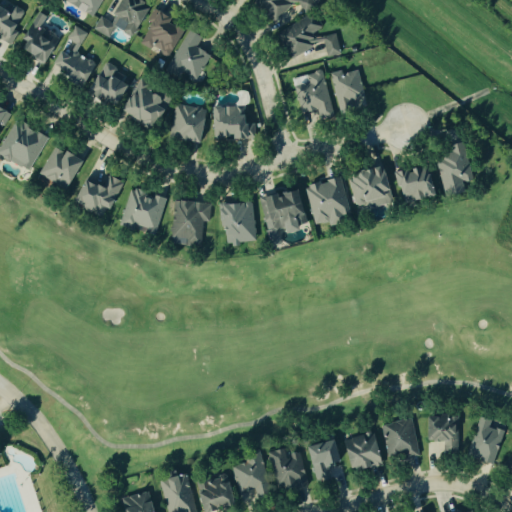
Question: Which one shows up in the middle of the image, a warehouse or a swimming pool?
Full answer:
There is a swimming pool in the middle of the image.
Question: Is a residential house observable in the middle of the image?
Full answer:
Yes, a residential house can be seen in the middle of the image.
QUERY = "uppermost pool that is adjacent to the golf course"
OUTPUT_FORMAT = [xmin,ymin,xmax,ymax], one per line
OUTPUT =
[0,160,34,180]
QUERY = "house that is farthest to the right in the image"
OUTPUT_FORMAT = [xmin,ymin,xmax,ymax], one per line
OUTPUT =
[474,416,507,466]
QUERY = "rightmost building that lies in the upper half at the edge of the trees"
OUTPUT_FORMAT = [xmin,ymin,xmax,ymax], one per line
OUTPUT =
[438,142,474,196]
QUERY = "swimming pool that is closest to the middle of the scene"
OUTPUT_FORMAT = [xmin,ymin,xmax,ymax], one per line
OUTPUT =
[276,220,312,248]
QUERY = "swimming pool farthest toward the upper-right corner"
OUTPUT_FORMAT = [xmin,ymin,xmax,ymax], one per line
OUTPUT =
[370,204,390,222]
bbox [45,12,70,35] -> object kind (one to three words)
swimming pool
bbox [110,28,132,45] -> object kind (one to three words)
swimming pool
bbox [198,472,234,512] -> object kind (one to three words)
house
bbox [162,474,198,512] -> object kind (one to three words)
house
